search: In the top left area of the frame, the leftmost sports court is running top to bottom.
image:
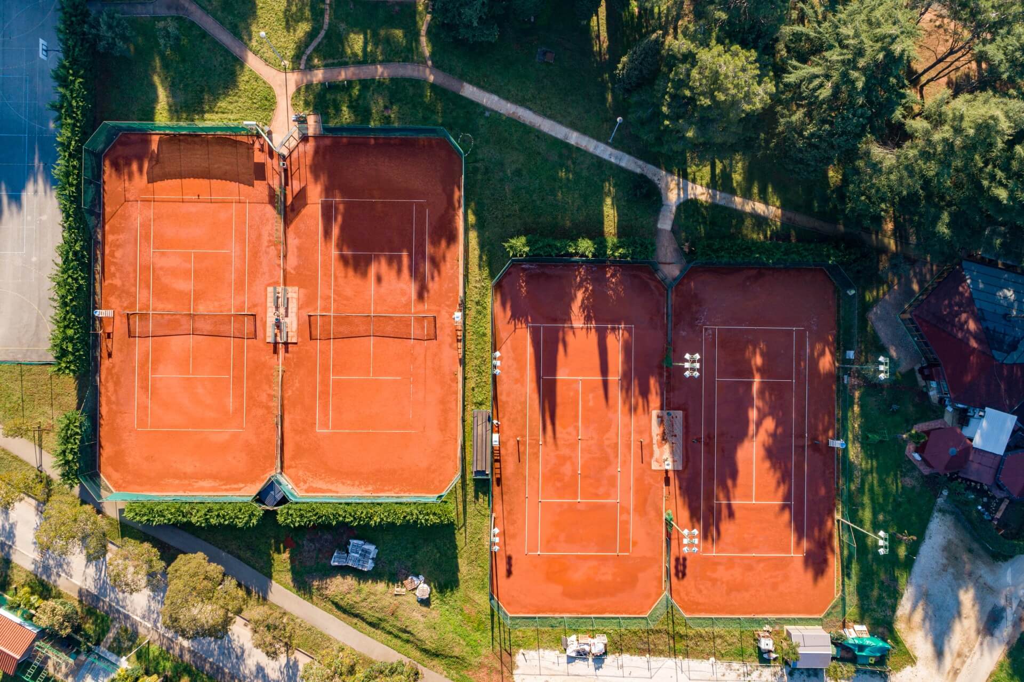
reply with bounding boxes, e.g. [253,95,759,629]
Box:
[0,0,69,364]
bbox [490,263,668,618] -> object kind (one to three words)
tennis court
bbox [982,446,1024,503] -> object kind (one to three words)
building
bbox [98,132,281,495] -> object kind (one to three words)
tennis court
